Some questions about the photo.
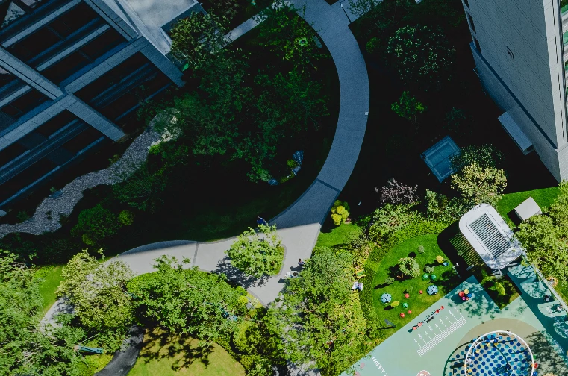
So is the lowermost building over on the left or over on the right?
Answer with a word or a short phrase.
right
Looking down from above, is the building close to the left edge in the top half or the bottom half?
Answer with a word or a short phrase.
top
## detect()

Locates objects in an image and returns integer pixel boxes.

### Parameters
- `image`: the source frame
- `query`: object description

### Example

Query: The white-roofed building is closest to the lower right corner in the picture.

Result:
[460,201,526,273]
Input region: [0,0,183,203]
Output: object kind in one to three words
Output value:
building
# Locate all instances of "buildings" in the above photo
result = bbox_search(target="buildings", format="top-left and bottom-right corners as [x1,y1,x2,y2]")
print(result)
[460,201,526,273]
[451,0,568,183]
[0,0,183,203]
